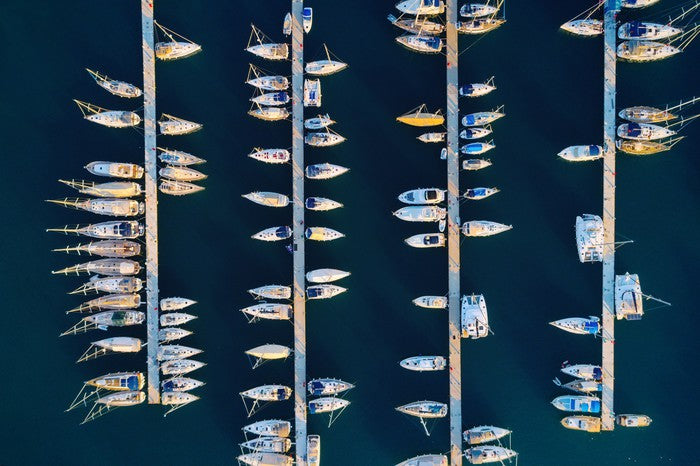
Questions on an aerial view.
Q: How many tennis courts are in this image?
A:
0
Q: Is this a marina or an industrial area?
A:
marina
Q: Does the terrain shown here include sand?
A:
No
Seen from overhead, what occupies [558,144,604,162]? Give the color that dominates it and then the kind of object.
white boat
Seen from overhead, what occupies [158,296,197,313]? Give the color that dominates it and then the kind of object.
white boat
